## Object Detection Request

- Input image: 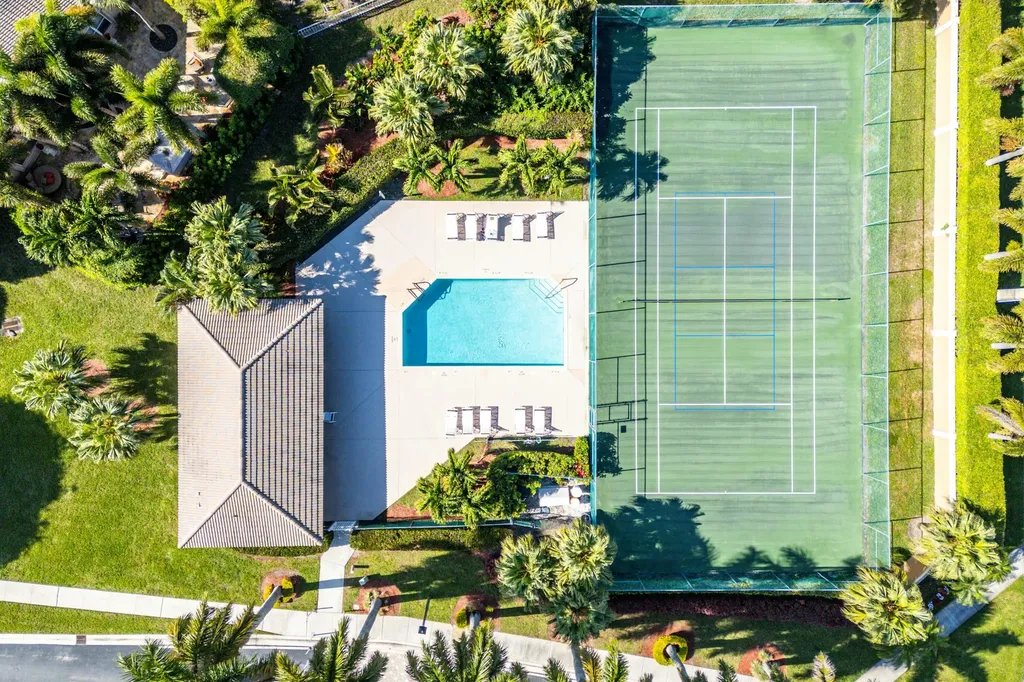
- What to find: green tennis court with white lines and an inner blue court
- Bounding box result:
[590,24,869,574]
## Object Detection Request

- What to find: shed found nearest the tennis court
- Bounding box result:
[539,485,570,507]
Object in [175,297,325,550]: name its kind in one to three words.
building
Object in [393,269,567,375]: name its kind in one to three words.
swimming pool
